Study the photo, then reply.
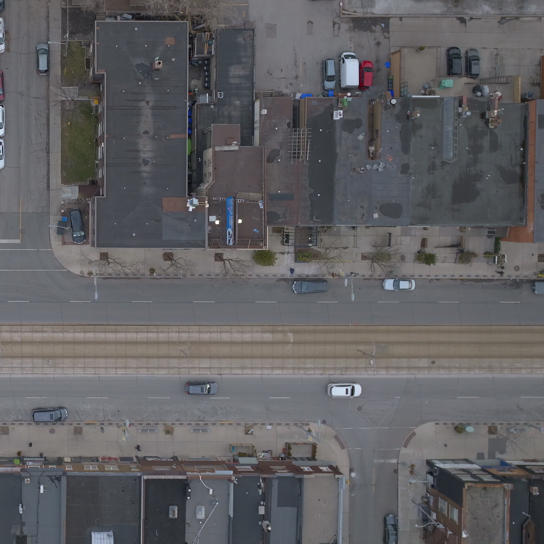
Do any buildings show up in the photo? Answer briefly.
Yes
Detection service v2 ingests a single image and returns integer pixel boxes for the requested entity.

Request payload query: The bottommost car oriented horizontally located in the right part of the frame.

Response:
[326,382,361,399]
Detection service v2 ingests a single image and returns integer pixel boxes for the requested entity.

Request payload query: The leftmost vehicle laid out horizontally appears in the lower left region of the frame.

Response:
[32,407,67,423]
